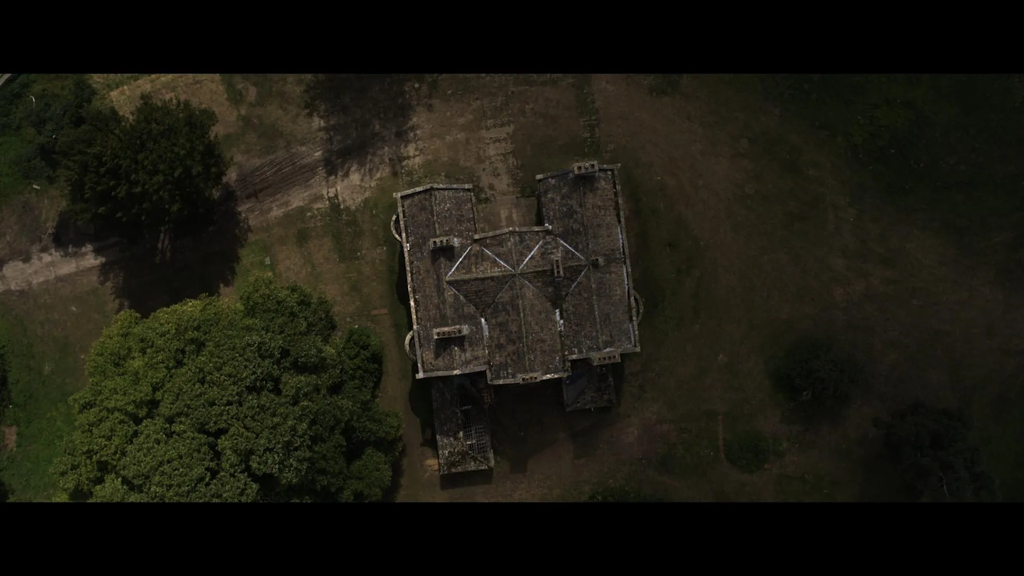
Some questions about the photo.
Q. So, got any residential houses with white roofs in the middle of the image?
No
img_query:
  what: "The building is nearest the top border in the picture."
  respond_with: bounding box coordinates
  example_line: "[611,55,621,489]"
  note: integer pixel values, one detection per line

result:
[390,163,645,385]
